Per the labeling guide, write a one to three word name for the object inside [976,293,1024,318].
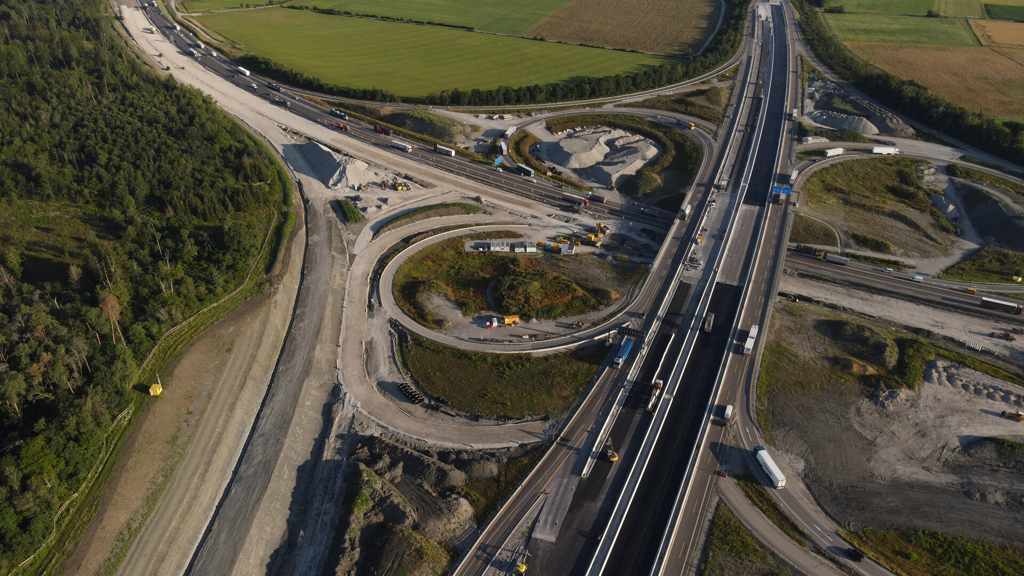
truck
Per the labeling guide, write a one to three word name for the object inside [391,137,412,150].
vehicle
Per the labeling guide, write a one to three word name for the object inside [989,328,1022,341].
vehicle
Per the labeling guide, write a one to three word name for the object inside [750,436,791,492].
truck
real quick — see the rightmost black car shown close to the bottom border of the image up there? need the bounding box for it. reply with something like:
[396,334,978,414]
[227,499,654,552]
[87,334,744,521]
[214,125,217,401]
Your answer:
[844,544,868,563]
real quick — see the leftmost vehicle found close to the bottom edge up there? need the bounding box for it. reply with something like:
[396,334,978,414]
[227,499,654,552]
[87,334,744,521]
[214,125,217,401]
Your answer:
[513,539,531,573]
